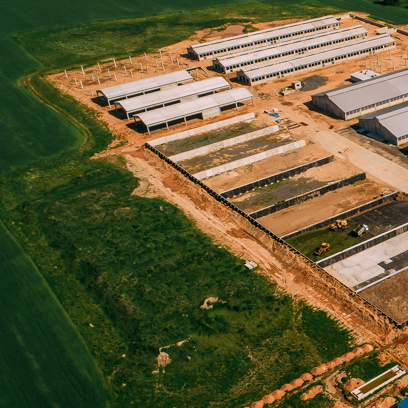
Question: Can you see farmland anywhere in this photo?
Yes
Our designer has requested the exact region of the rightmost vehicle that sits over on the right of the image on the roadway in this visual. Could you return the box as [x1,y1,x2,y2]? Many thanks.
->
[353,223,371,236]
